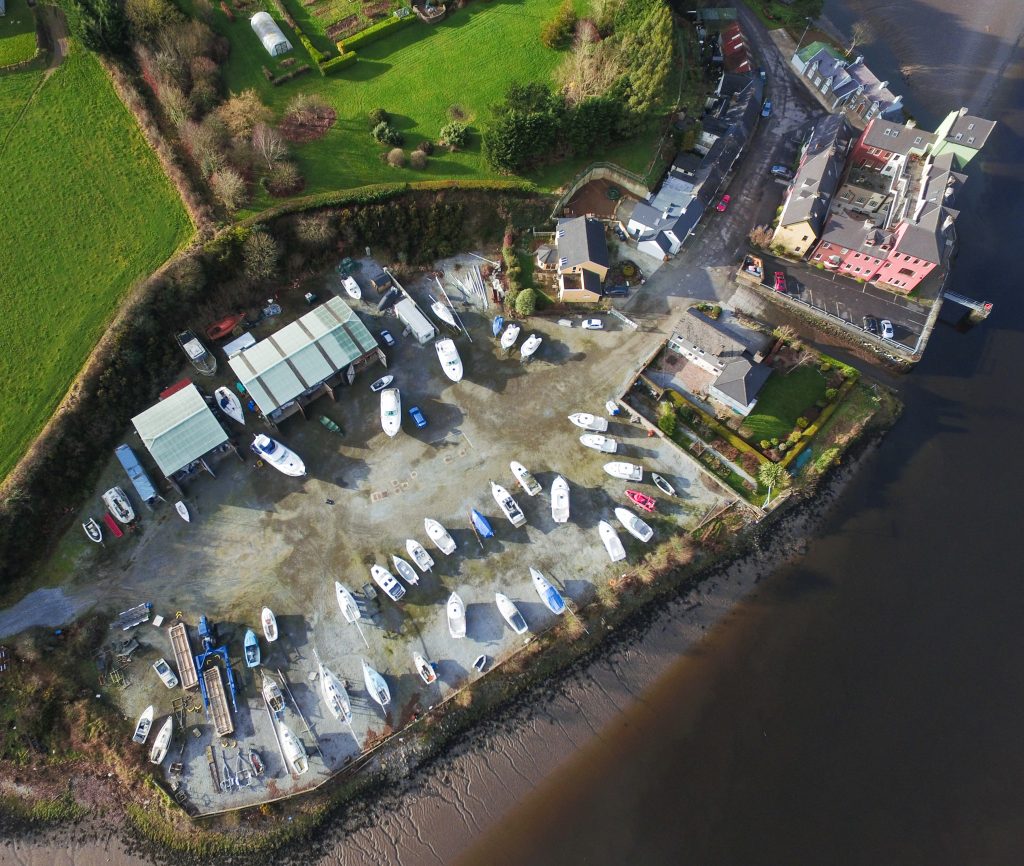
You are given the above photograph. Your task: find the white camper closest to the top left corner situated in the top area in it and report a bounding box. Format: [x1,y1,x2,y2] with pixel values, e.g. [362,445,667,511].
[396,298,436,346]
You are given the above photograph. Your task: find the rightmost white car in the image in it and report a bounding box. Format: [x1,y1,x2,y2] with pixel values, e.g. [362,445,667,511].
[879,320,894,340]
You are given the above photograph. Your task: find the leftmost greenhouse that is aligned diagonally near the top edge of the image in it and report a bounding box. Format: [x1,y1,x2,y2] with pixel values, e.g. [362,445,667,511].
[249,4,291,52]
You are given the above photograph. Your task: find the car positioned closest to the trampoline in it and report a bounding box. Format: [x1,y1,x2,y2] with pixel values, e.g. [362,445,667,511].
[612,224,628,242]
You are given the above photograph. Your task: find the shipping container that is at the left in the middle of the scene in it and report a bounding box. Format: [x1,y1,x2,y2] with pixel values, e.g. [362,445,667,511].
[116,444,161,510]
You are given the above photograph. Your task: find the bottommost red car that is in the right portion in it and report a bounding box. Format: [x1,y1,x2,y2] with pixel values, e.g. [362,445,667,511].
[773,271,785,291]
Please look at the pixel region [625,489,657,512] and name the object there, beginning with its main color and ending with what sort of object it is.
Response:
red boat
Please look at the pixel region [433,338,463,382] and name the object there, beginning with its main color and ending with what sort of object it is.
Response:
white boat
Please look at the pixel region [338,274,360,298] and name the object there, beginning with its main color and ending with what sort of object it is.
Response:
white boat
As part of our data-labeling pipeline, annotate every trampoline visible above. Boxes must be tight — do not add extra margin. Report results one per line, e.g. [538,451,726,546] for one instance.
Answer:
[604,185,622,202]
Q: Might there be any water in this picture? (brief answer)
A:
Yes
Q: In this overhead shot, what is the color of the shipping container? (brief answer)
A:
blue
